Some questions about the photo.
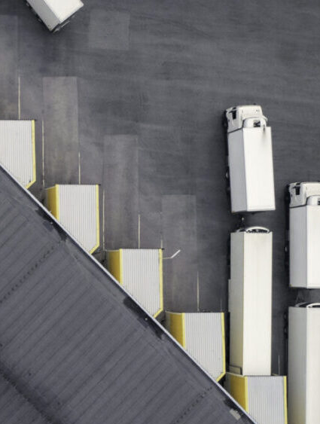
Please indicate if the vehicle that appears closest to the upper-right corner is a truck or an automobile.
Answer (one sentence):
From above, the vehicle that appears closest to the upper-right corner can be identified as a truck.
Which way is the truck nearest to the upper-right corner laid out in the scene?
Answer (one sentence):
The truck nearest to the upper-right corner is laid out from top to bottom.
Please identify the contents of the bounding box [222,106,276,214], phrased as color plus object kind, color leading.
white truck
